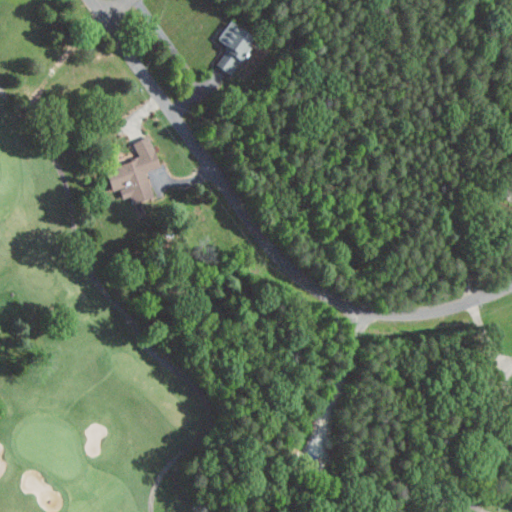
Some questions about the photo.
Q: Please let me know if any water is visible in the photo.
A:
No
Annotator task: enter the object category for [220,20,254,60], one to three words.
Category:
house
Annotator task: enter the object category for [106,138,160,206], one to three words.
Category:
house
